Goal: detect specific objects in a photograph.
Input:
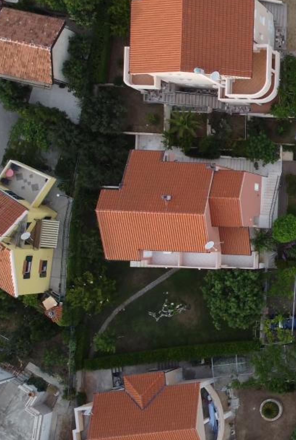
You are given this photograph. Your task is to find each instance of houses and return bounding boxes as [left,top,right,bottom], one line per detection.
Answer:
[0,7,85,90]
[125,0,293,111]
[71,364,233,440]
[0,354,71,440]
[0,160,71,298]
[95,136,290,269]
